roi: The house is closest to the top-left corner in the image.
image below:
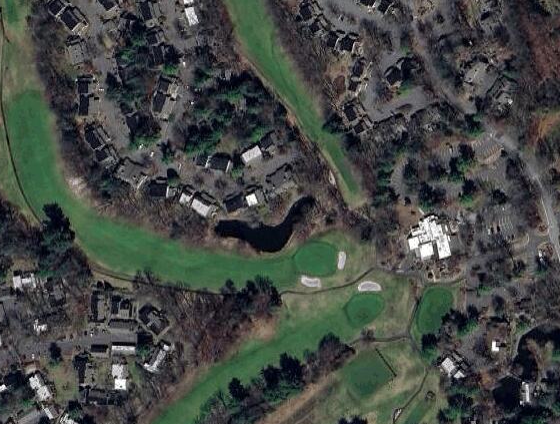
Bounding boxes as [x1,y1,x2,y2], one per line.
[46,0,86,31]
